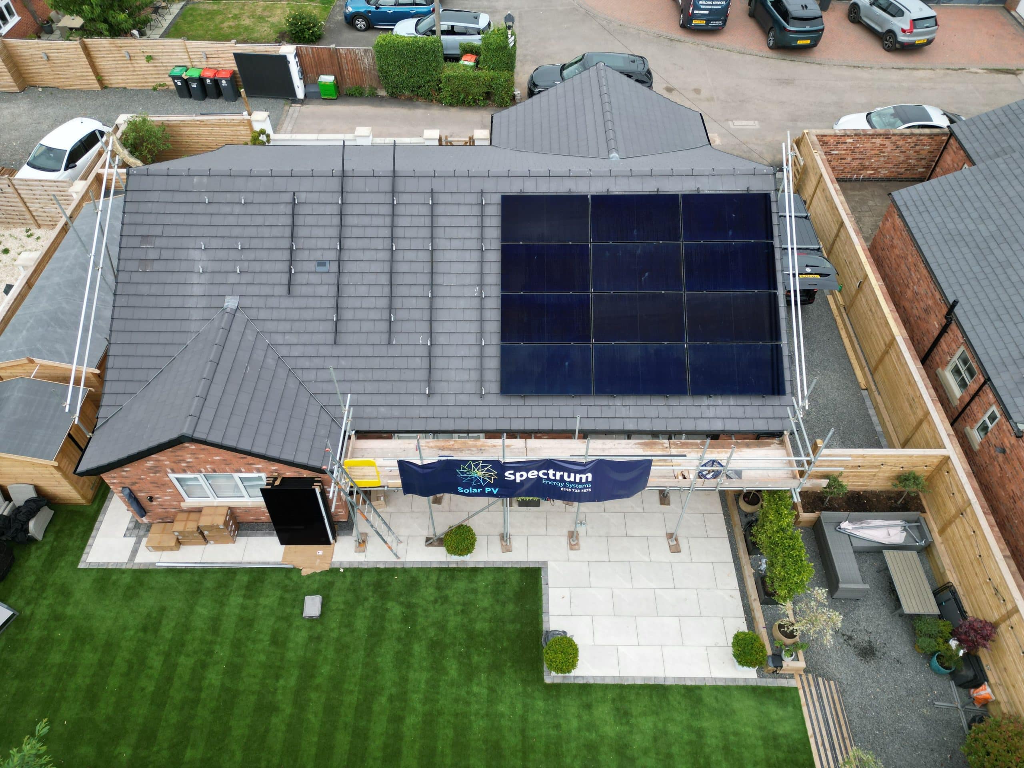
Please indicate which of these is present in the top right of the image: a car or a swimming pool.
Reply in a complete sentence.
You can see a car in the top right of the image.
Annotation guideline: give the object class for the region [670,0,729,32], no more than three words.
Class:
van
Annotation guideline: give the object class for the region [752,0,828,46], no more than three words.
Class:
car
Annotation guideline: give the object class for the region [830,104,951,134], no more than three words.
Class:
car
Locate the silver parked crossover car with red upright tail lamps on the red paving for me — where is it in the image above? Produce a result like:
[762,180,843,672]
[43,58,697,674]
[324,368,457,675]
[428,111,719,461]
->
[854,0,945,51]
